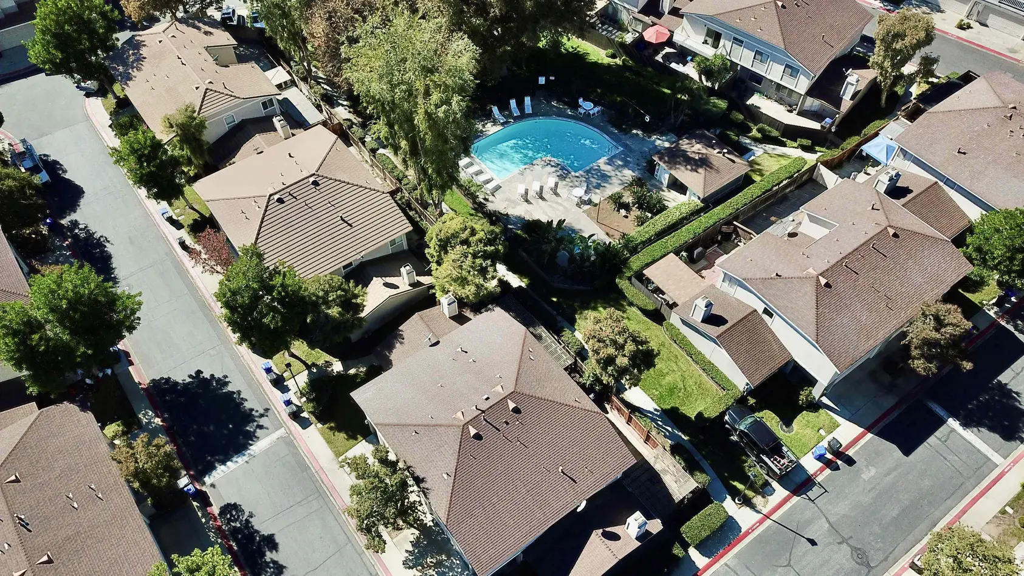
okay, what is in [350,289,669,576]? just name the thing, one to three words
house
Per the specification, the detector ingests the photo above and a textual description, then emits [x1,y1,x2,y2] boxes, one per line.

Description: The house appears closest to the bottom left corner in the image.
[0,390,171,576]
